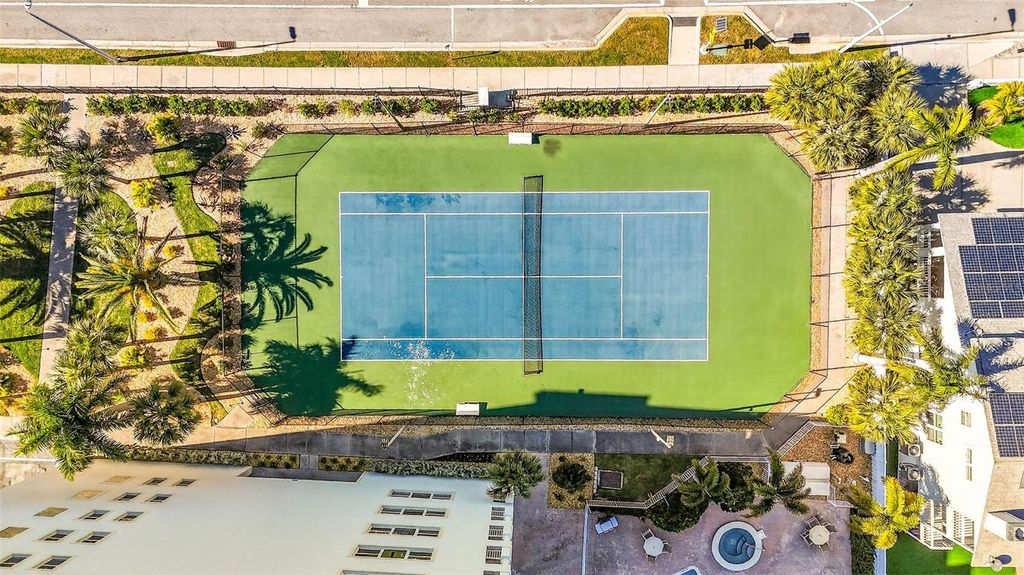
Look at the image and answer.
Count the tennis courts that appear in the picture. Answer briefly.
1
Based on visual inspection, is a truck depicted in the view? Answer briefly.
No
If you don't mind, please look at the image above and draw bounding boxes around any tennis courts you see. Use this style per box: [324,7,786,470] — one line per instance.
[241,133,812,416]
